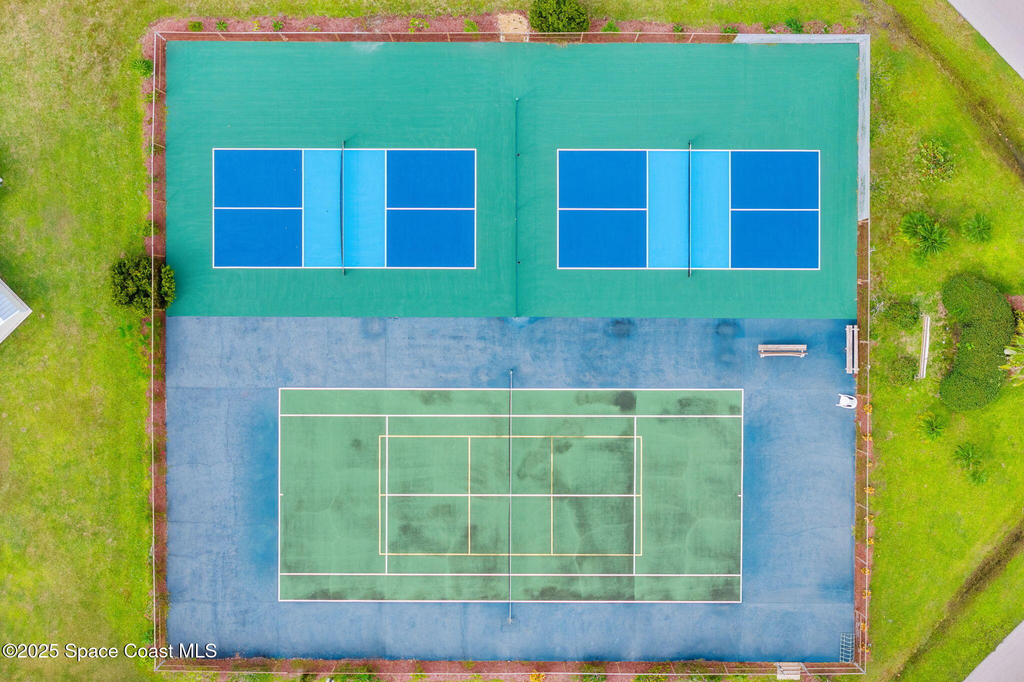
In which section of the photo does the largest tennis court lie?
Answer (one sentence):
You can find the largest tennis court in the bottom area of the picture.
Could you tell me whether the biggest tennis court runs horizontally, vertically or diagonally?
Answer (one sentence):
From this overhead view, the biggest tennis court appears to run horizontally.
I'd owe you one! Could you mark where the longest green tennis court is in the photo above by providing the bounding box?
[278,388,744,604]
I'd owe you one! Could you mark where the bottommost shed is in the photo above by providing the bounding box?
[0,277,34,346]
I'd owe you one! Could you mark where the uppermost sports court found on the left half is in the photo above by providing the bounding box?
[212,148,476,269]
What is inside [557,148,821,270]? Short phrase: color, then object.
blue sports court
